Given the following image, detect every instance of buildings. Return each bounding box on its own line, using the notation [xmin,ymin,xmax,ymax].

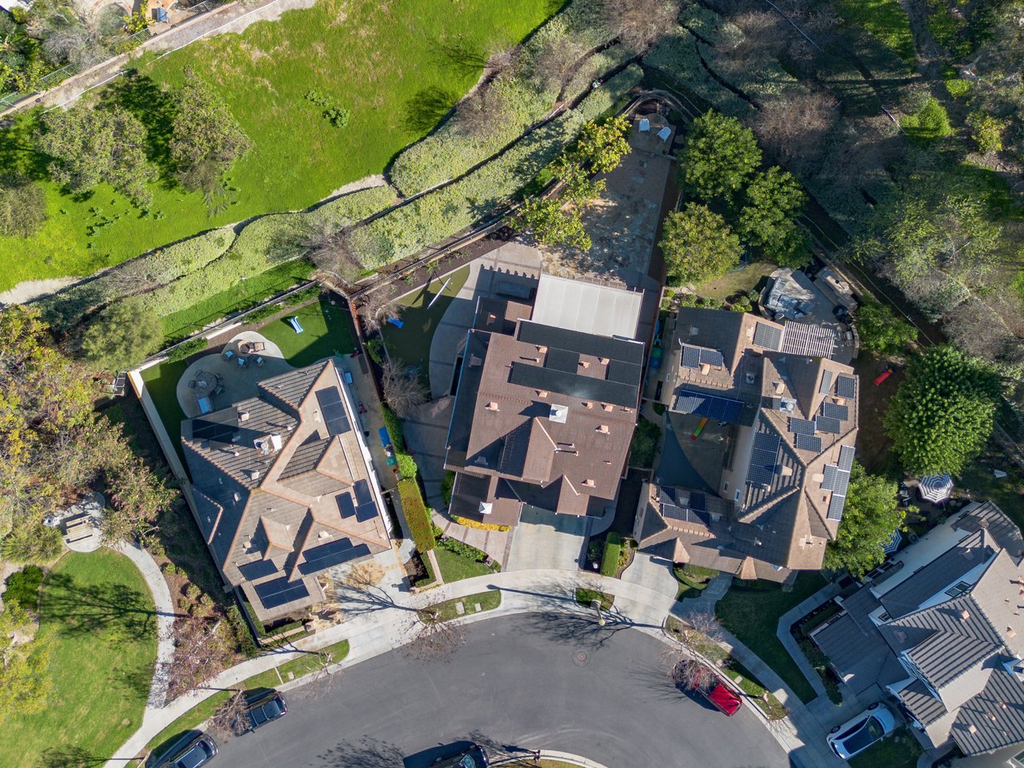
[802,498,1024,759]
[180,359,397,622]
[637,307,861,585]
[443,296,646,526]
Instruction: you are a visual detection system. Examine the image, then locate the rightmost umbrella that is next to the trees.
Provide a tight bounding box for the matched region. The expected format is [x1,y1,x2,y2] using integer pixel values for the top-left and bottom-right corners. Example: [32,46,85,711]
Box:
[911,468,948,502]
